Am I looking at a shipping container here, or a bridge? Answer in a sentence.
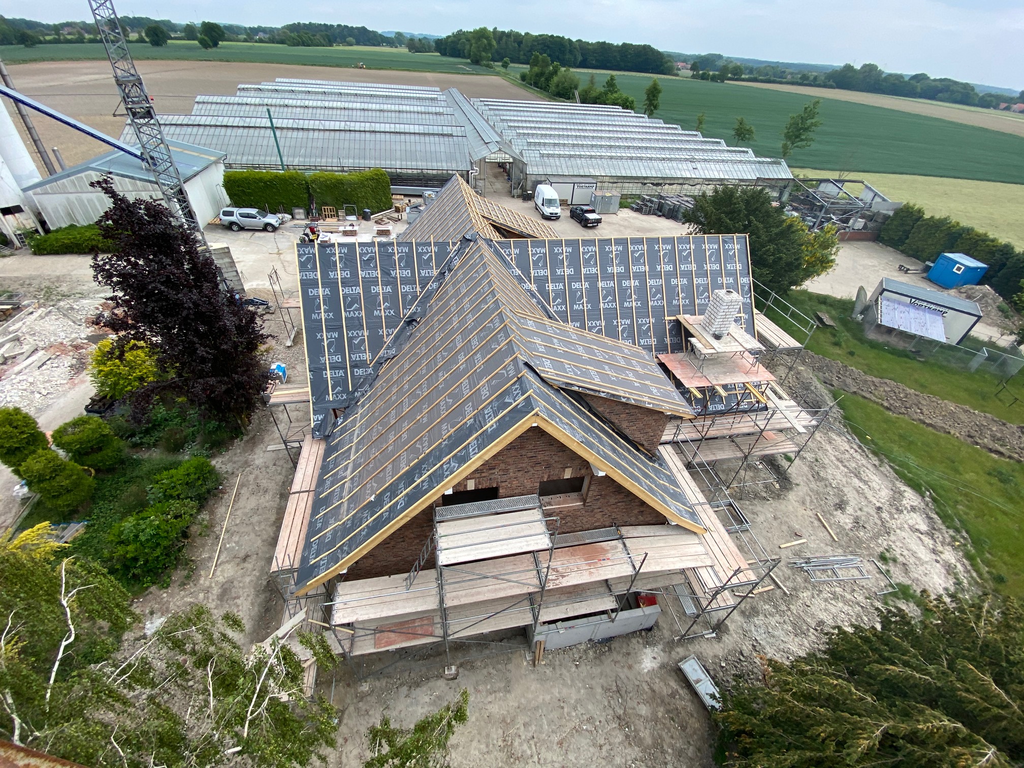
The one in the frame is a shipping container.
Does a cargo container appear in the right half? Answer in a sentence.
Yes, a cargo container shows up in the right half.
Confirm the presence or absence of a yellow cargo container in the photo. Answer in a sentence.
No, there appears to be no yellow cargo container in this shot.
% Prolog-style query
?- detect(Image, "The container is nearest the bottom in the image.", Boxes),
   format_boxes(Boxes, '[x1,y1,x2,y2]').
[862,278,985,355]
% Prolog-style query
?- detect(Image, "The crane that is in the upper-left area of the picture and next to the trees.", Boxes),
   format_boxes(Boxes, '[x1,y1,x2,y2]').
[86,0,261,296]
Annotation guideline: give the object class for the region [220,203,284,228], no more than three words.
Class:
truck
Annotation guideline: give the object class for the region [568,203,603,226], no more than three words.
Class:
truck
